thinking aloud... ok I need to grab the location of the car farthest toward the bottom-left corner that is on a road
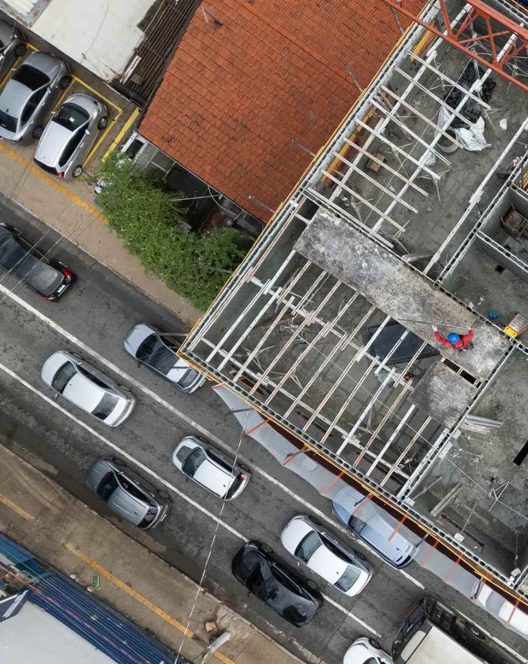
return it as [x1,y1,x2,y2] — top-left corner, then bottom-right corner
[86,456,177,532]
